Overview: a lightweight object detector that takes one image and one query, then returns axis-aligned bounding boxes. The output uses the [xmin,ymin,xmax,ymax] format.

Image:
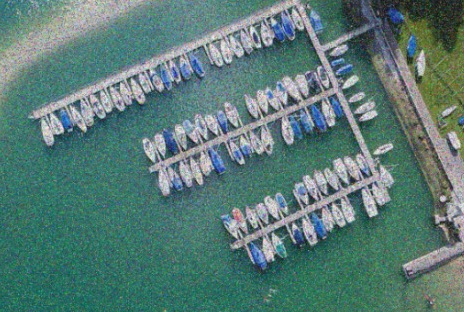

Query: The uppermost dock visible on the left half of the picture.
[31,0,299,126]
